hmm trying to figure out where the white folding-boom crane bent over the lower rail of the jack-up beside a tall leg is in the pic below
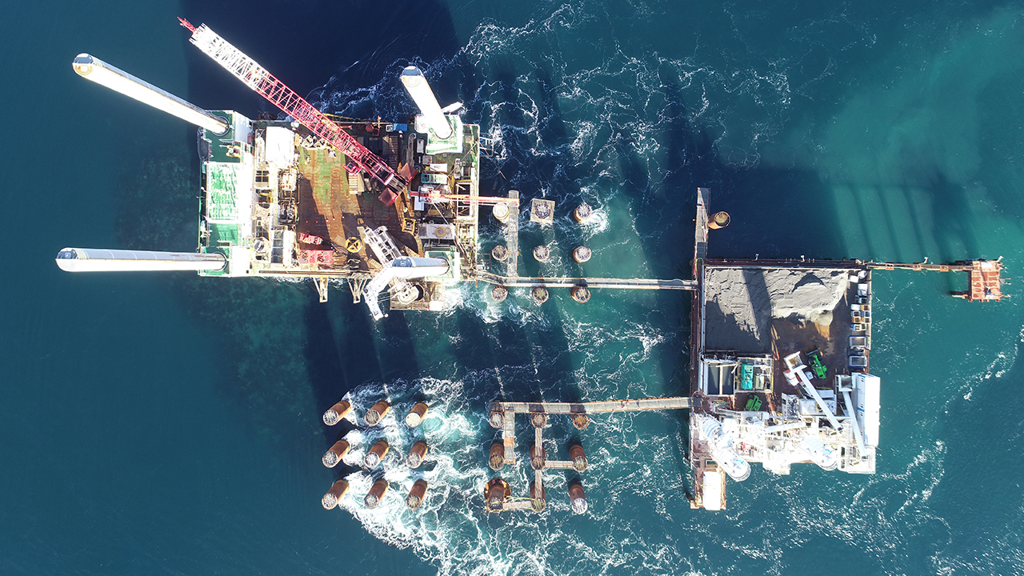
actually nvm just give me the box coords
[361,221,401,321]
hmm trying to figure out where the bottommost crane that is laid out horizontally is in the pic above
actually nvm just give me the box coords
[408,185,524,224]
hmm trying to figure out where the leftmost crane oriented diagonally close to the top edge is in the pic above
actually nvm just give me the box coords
[178,16,424,212]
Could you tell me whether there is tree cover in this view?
No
